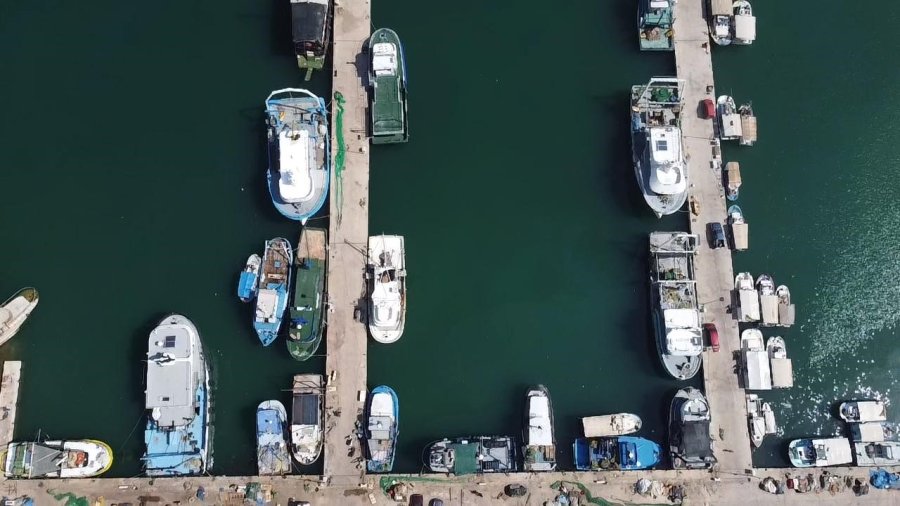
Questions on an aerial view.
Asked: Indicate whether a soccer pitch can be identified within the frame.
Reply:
No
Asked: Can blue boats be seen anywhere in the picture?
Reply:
Yes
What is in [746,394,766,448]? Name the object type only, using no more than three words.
boat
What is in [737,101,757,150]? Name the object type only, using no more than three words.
boat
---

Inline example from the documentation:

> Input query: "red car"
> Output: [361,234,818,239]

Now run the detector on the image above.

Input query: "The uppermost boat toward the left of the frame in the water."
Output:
[289,0,336,81]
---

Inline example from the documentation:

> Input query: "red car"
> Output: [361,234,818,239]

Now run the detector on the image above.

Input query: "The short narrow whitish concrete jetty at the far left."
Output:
[0,361,26,478]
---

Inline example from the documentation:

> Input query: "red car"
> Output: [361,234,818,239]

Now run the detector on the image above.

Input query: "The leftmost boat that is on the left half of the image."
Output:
[0,286,42,348]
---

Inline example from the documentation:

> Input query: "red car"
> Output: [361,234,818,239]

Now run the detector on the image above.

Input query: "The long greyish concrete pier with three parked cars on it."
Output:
[673,0,752,468]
